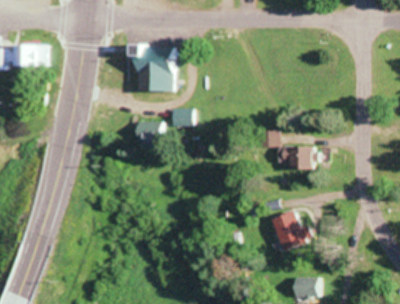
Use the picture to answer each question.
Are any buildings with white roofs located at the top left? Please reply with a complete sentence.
Yes, at the top left there is a building with a white roof.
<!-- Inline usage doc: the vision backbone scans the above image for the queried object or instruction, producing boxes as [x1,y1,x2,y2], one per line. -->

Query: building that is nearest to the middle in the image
[170,109,198,128]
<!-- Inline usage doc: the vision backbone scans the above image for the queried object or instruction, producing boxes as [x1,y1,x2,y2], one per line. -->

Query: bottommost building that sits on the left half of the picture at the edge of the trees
[135,122,166,140]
